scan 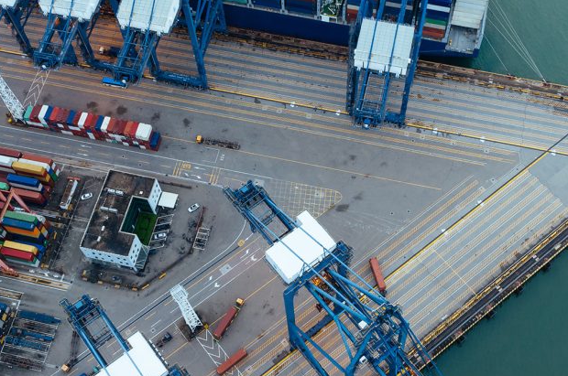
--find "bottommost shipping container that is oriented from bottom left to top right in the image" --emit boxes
[215,348,247,376]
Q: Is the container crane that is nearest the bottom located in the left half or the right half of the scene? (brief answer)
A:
left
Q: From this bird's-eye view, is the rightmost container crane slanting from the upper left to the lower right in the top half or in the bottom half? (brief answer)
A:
bottom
